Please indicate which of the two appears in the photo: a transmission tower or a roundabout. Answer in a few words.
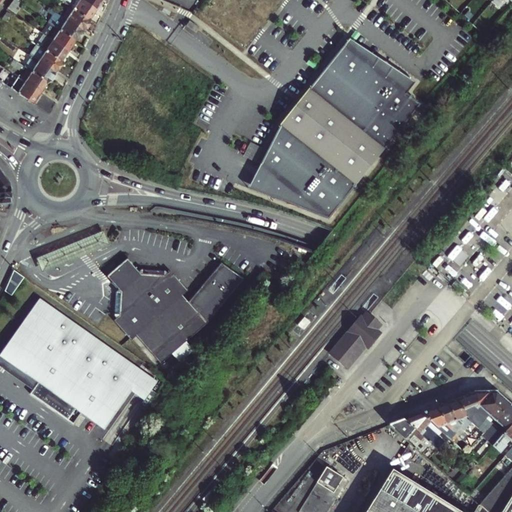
roundabout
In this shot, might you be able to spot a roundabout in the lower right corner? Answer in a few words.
No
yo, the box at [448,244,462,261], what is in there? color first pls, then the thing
white camper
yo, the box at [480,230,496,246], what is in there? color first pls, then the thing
white camper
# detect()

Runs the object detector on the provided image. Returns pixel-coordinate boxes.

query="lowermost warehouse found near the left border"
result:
[0,298,157,430]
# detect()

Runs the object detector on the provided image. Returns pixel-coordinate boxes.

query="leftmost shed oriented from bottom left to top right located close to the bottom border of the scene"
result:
[278,474,316,512]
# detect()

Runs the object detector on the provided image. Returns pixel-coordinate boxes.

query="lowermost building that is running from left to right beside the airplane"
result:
[366,470,460,512]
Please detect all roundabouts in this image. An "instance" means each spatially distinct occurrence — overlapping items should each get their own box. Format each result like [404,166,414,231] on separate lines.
[18,140,100,221]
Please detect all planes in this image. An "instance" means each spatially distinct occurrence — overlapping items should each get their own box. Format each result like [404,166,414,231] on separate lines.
[390,452,413,470]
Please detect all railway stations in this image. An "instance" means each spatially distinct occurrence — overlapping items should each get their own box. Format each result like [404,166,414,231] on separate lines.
[328,308,383,370]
